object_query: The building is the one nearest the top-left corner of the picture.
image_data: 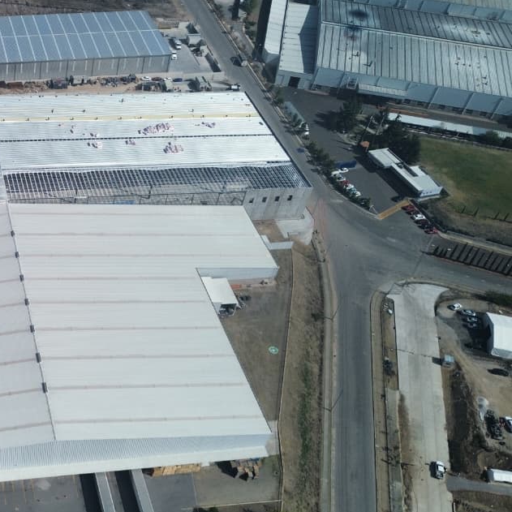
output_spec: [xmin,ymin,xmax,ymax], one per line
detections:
[0,10,169,80]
